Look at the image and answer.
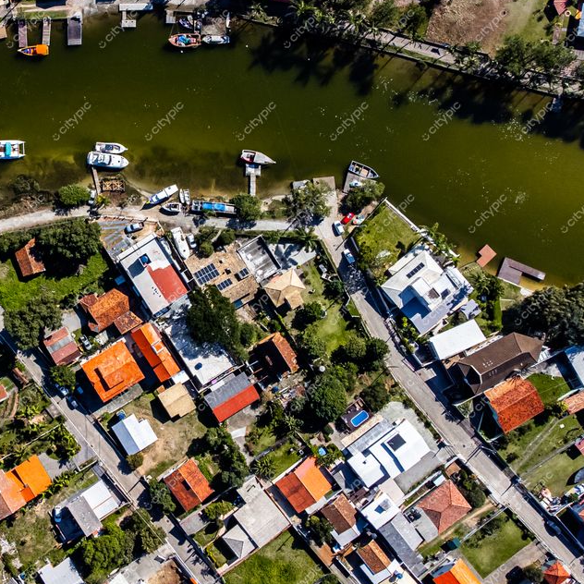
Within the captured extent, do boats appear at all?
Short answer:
Yes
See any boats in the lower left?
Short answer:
No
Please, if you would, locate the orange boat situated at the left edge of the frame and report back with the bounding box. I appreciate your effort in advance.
[17,43,48,57]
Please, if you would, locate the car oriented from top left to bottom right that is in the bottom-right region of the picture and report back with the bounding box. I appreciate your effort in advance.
[546,521,561,537]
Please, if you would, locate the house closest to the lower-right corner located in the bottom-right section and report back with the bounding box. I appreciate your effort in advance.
[541,560,571,584]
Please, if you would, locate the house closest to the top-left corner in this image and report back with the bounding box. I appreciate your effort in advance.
[15,239,45,276]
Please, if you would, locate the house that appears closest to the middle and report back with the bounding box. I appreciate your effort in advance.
[264,270,305,308]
